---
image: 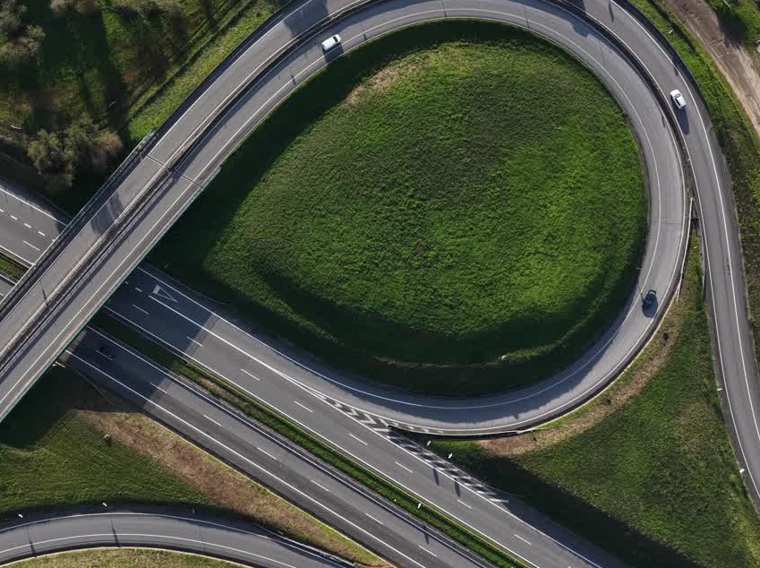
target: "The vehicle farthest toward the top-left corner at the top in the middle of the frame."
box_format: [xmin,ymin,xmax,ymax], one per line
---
[319,35,343,52]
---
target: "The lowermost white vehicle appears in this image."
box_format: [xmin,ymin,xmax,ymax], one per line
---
[670,89,686,110]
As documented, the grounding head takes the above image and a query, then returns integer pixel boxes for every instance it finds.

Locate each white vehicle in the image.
[670,89,686,110]
[319,35,343,52]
